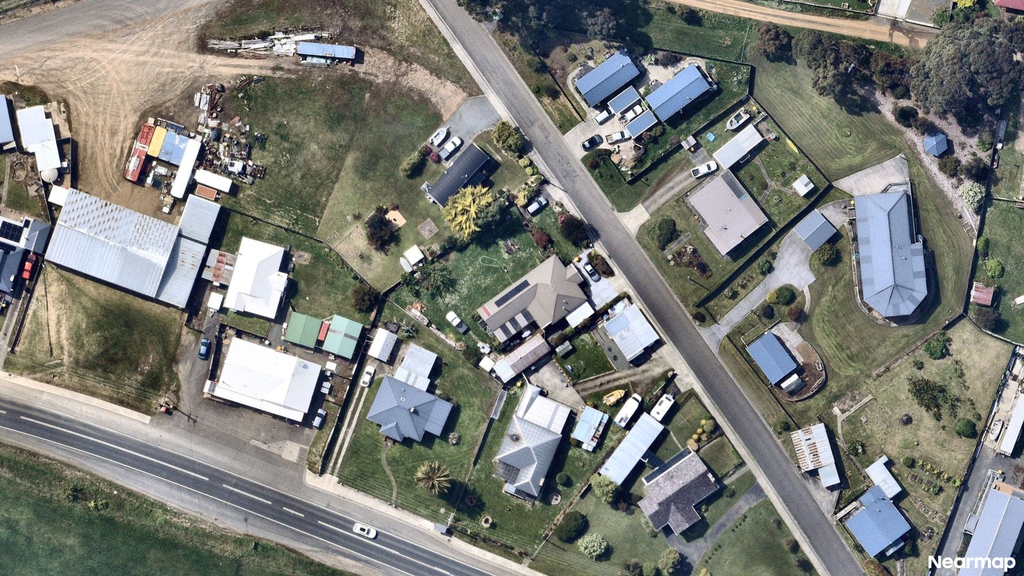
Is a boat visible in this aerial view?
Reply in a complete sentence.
Yes, there's a boat down there.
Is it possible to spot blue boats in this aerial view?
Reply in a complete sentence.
No, the picture doesn't show any blue boat.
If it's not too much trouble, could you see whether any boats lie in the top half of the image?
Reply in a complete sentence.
Yes, the scene does show a boat in the top half of the image.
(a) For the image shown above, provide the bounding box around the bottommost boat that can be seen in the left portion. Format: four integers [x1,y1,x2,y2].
[400,257,413,273]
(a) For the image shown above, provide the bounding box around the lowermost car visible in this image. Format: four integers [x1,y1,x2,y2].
[351,523,378,540]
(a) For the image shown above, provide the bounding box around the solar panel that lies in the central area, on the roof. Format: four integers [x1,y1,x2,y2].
[494,280,530,308]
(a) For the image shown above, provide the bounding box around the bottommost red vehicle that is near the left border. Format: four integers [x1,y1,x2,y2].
[20,253,37,279]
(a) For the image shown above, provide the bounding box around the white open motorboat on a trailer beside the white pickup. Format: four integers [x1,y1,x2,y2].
[429,127,447,147]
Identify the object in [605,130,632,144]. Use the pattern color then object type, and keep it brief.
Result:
white vehicle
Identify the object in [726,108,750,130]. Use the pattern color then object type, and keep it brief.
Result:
white boat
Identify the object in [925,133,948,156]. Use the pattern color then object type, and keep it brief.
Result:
blue gazebo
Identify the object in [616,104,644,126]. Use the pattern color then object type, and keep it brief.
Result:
white truck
